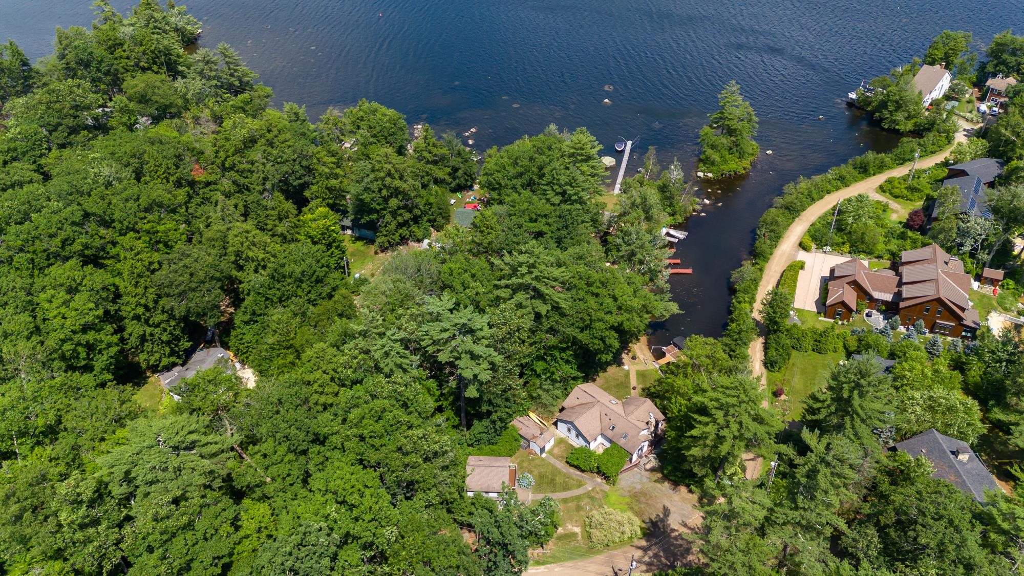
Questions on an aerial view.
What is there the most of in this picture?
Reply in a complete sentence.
For the most part, this view shows trees.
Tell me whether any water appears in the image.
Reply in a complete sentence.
Yes, water can be seen from above here.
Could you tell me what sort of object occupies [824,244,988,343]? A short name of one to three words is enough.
house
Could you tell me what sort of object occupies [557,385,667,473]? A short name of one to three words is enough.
house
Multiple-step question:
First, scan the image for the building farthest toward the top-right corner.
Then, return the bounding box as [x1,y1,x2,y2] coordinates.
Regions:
[976,75,1024,109]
